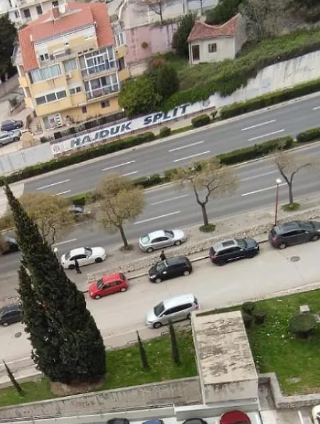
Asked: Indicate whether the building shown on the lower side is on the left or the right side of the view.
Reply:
right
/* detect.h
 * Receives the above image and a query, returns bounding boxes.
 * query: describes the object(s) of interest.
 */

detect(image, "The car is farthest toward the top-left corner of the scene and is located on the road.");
[0,118,24,132]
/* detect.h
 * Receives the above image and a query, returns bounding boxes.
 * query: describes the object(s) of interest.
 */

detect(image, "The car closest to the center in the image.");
[139,229,187,251]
